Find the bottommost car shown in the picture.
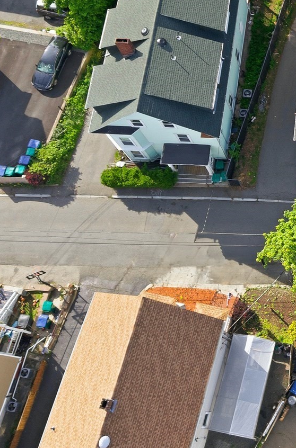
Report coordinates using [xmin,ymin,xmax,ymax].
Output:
[33,38,70,88]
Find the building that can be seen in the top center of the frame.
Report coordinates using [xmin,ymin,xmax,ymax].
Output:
[84,0,265,191]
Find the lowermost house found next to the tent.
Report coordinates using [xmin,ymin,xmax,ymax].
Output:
[37,292,236,448]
